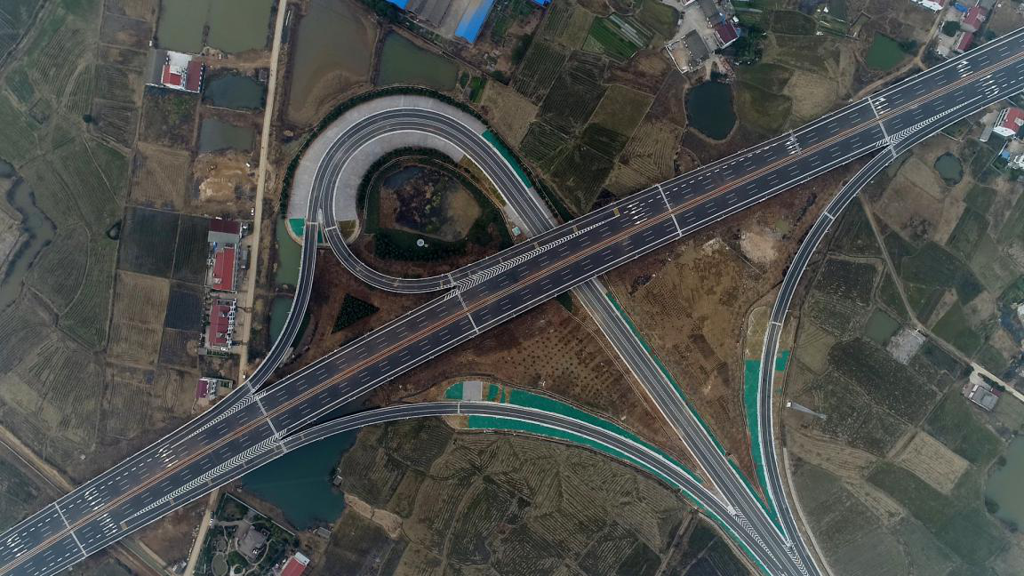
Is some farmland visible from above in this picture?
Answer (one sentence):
Yes, farmland can be seen from above here.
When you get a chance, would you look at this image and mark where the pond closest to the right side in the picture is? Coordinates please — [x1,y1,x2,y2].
[983,433,1024,535]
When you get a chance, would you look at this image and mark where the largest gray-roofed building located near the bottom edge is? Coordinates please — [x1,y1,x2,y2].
[238,526,270,560]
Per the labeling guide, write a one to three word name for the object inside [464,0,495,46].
building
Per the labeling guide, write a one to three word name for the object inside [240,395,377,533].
pond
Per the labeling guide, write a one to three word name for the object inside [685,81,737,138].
pond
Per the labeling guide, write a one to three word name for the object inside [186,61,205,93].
house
